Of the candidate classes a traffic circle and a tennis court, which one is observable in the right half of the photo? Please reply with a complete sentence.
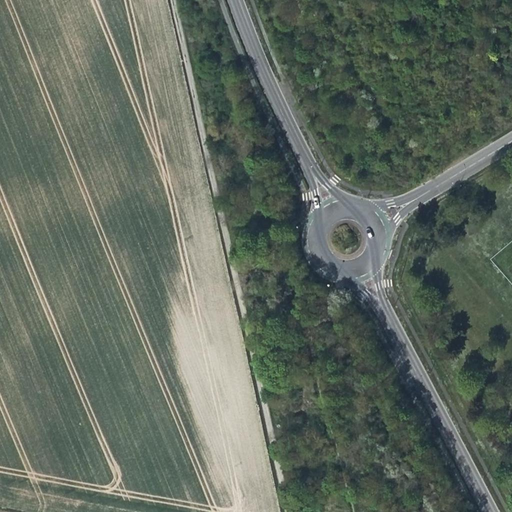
You can see a traffic circle in the right half of the photo.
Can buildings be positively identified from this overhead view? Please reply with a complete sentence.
No, I can't see a single building in this photo.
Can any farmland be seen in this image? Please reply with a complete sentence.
Yes, the picture does contain farmland.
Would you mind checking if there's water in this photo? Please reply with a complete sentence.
No, the picture contains no water.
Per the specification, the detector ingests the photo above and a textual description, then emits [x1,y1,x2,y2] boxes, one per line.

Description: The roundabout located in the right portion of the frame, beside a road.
[307,189,398,286]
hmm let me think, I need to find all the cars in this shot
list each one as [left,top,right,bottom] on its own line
[366,228,372,238]
[314,198,320,208]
